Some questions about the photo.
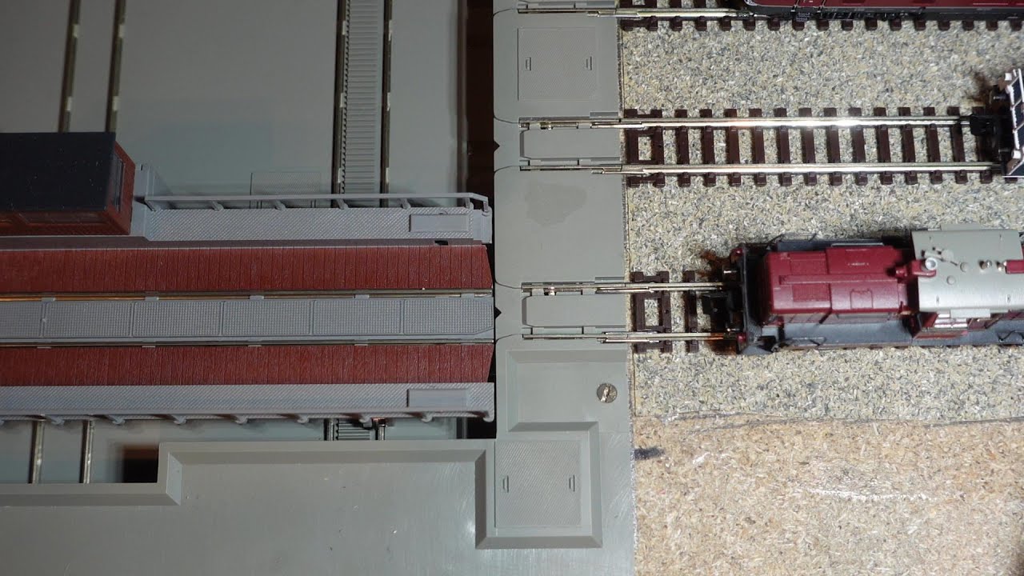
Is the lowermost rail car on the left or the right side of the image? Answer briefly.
right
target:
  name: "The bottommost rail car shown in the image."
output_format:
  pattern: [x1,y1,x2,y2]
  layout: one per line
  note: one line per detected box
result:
[701,225,1024,360]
